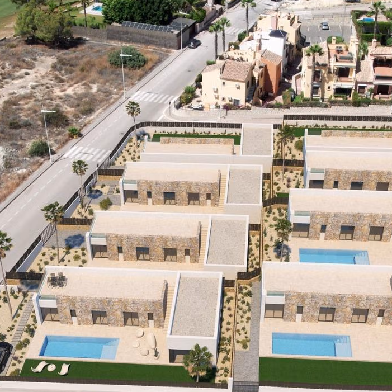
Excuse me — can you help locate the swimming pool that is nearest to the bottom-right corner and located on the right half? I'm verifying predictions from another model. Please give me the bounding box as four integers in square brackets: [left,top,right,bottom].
[273,334,354,357]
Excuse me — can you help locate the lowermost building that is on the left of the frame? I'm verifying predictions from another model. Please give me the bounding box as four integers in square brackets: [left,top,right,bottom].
[34,266,219,365]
